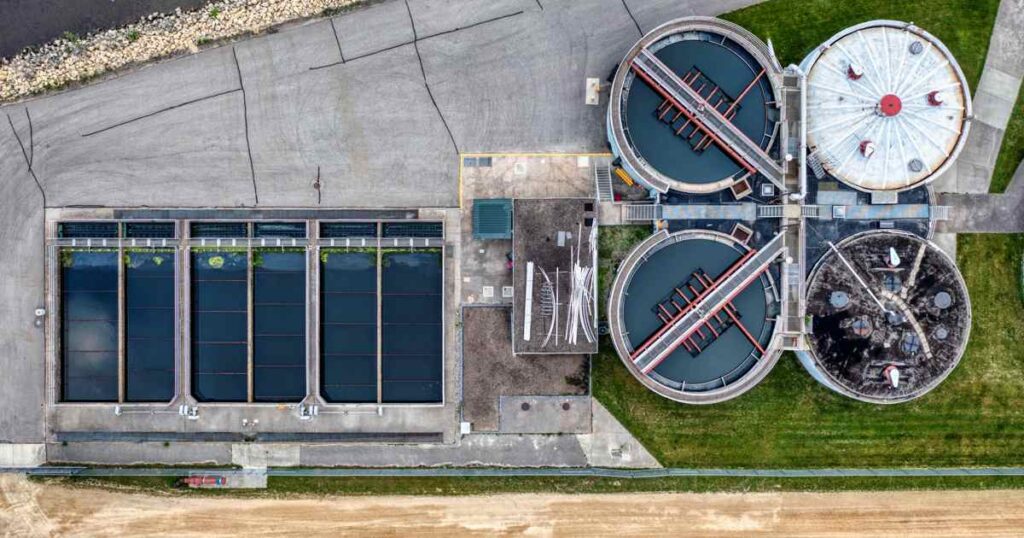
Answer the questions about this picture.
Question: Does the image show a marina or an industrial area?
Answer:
industrial area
